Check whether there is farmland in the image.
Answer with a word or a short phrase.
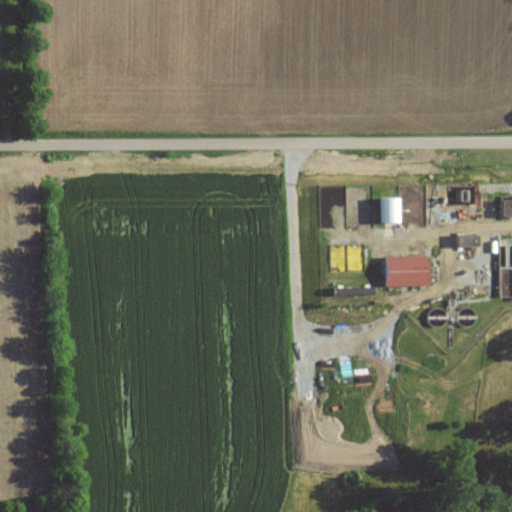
Yes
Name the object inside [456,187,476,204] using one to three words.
building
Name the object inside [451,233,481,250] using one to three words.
building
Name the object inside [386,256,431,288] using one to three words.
barn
